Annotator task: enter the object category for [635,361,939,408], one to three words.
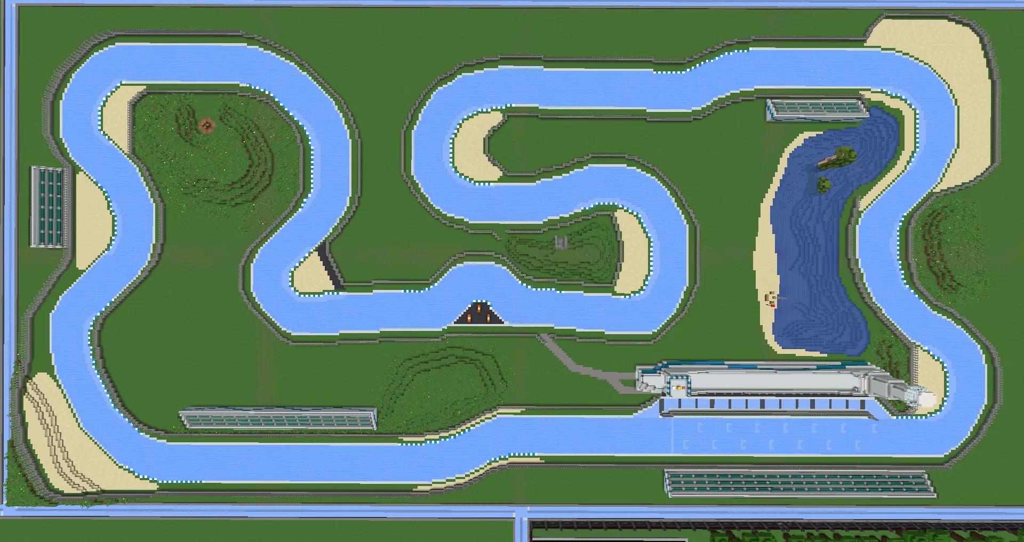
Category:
building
